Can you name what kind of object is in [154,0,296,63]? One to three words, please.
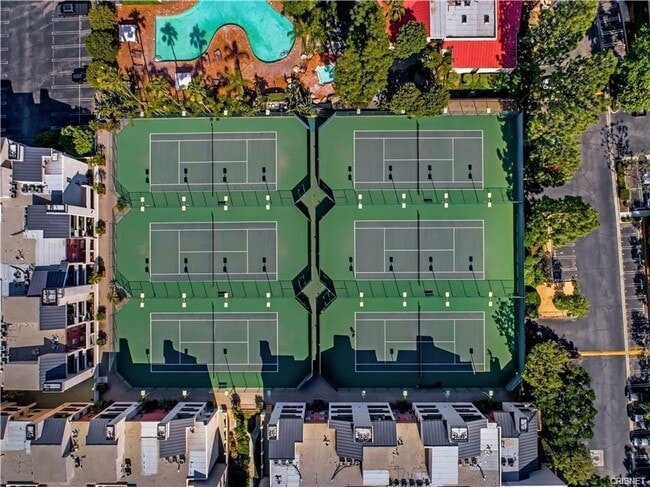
swimming pool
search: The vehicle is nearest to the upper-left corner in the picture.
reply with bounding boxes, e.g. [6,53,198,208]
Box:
[56,1,88,17]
